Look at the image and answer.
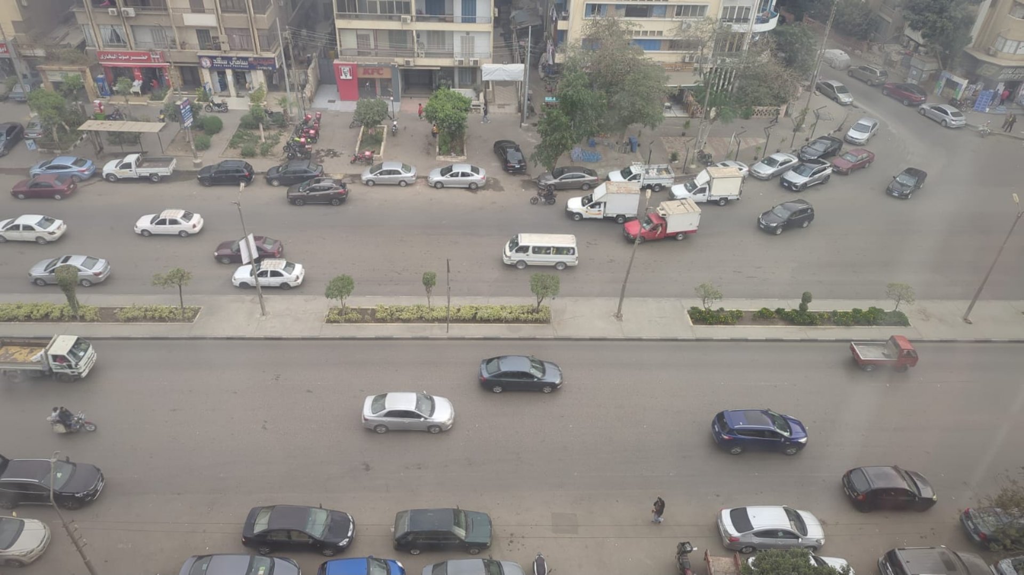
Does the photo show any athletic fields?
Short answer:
No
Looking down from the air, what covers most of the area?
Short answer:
paved ground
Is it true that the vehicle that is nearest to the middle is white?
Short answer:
Yes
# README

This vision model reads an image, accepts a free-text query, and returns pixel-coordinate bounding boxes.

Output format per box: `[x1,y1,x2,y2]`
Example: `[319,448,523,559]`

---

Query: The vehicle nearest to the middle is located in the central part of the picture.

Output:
[505,231,579,270]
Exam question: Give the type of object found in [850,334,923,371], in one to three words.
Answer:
truck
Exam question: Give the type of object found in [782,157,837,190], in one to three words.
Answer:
car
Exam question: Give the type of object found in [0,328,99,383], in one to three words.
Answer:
truck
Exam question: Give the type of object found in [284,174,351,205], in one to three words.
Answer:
car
